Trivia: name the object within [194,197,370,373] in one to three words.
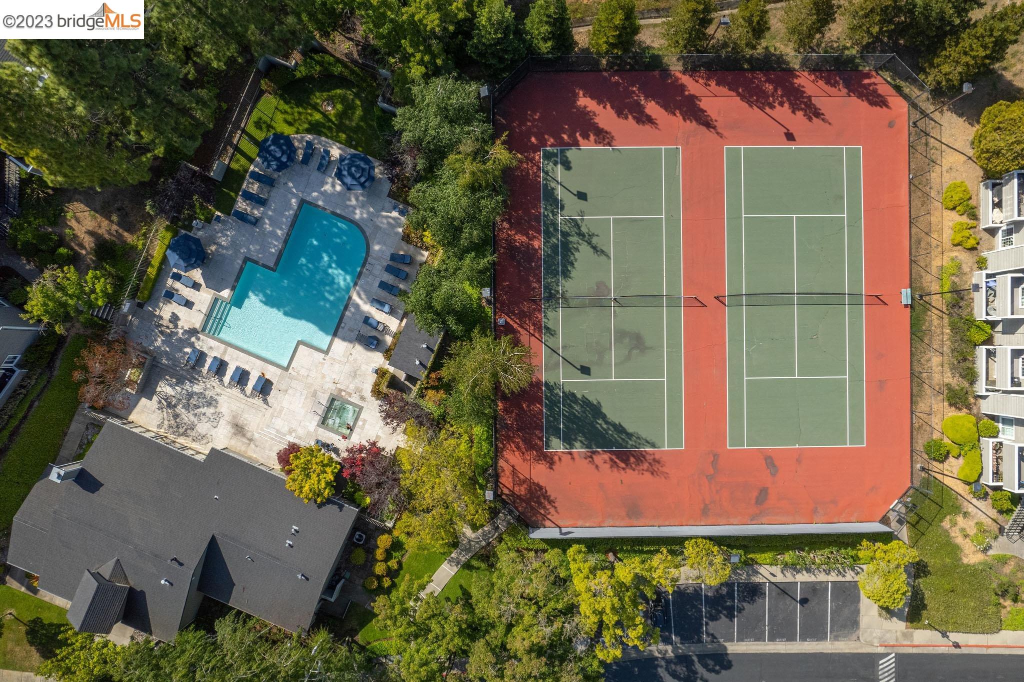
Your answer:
swimming pool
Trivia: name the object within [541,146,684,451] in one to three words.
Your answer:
tennis court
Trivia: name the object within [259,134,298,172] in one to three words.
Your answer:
umbrella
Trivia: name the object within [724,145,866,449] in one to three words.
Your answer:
tennis court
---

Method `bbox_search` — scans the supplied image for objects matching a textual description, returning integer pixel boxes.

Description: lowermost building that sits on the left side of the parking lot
[7,418,359,644]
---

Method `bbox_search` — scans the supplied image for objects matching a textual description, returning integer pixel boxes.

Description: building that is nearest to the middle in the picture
[388,318,443,380]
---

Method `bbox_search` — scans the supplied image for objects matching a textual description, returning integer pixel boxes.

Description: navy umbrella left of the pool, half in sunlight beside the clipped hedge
[167,234,206,272]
